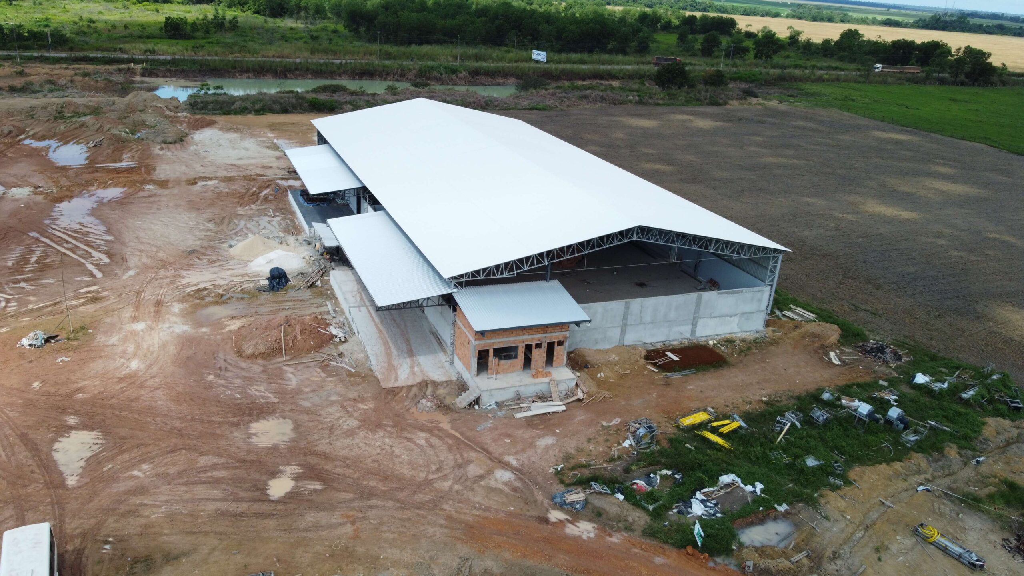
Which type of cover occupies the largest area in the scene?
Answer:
paved ground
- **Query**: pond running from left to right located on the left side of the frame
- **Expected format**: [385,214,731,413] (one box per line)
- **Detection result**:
[154,80,524,100]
